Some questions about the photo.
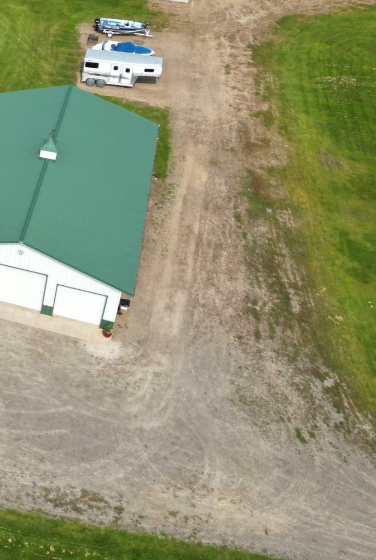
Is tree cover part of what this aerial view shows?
No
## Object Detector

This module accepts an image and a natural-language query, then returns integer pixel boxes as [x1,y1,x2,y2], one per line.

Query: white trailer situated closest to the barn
[81,47,162,89]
